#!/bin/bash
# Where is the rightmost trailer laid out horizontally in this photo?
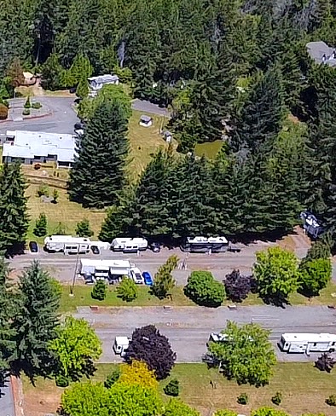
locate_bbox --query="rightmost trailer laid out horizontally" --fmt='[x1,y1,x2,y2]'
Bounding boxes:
[279,335,336,352]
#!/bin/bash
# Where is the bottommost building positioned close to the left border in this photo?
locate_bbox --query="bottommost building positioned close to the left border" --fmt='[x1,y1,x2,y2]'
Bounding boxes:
[2,131,77,169]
